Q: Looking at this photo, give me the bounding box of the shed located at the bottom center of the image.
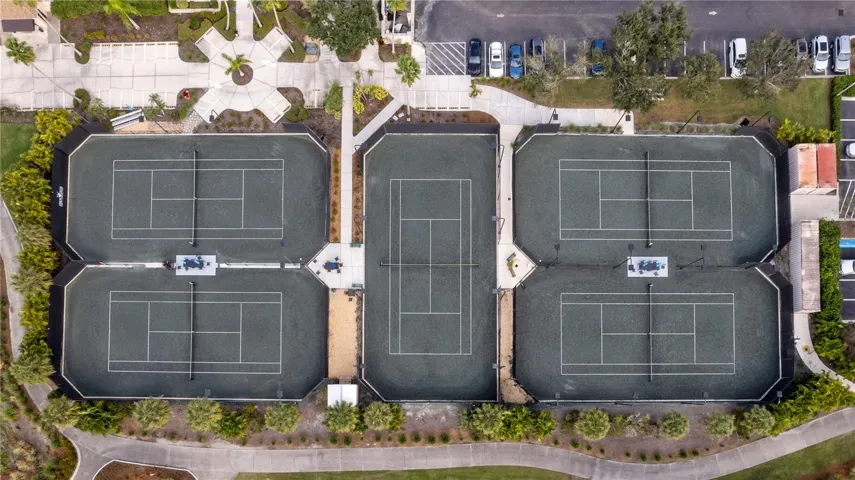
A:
[326,384,359,409]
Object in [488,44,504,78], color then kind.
white car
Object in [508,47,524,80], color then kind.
blue car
